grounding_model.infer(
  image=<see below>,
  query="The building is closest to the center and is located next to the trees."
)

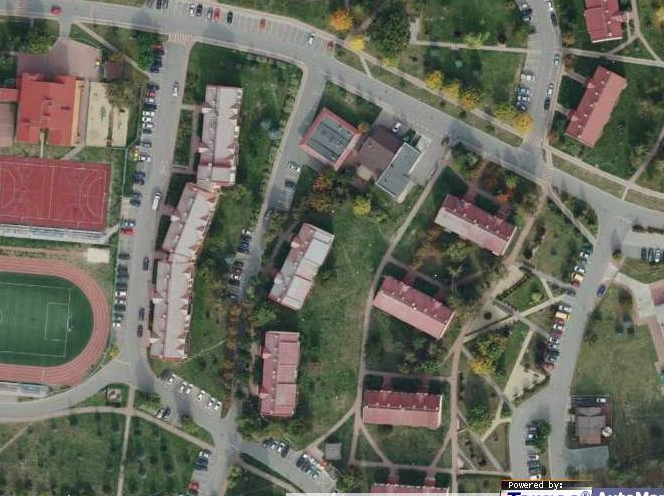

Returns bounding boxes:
[270,225,335,310]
